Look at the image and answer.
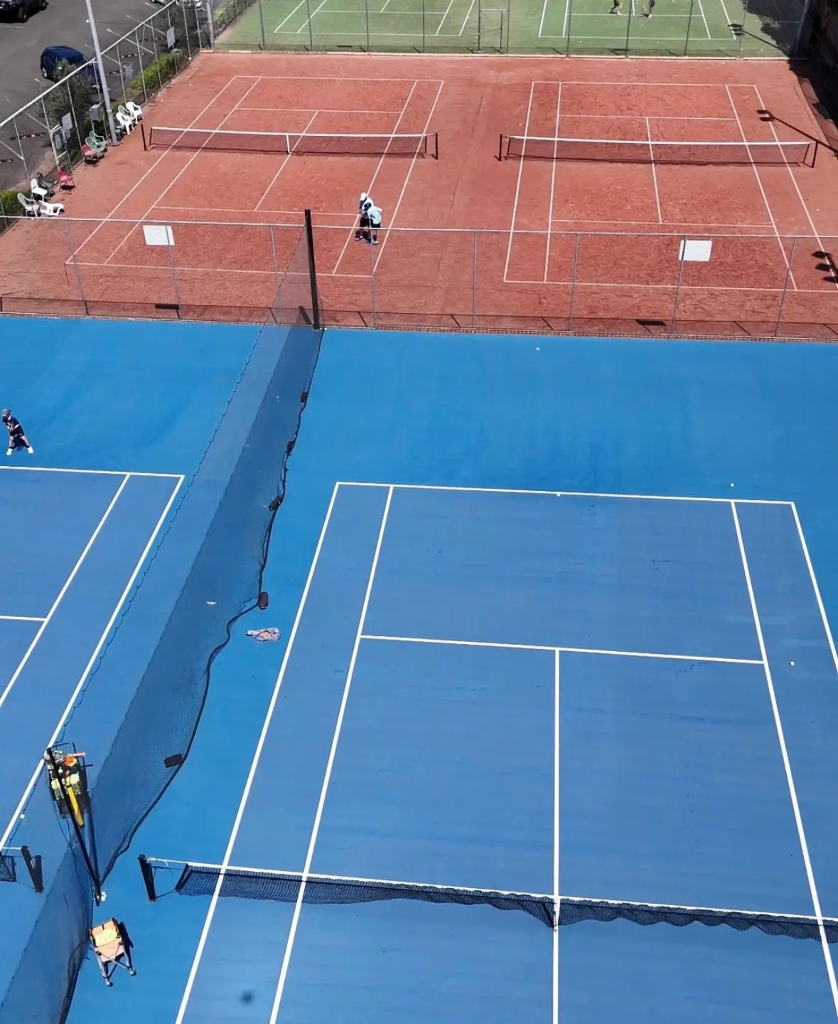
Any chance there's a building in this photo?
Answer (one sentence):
No, I can see no building in this picture.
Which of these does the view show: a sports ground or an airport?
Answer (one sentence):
This image shows a sports ground.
